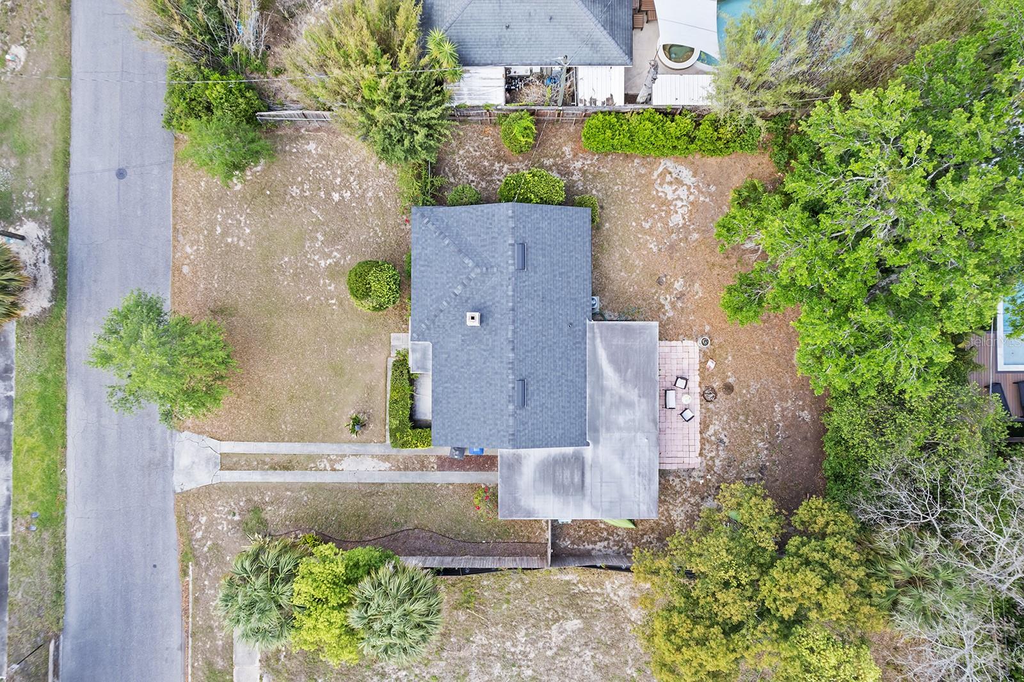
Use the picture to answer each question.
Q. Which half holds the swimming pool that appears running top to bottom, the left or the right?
right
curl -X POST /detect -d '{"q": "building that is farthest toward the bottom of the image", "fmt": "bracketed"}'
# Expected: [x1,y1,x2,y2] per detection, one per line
[409,202,659,519]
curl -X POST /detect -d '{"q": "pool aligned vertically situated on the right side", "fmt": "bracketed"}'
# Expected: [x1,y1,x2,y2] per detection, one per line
[994,282,1024,373]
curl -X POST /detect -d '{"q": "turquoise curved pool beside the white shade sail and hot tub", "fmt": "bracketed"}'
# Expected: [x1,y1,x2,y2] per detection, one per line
[696,0,869,73]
